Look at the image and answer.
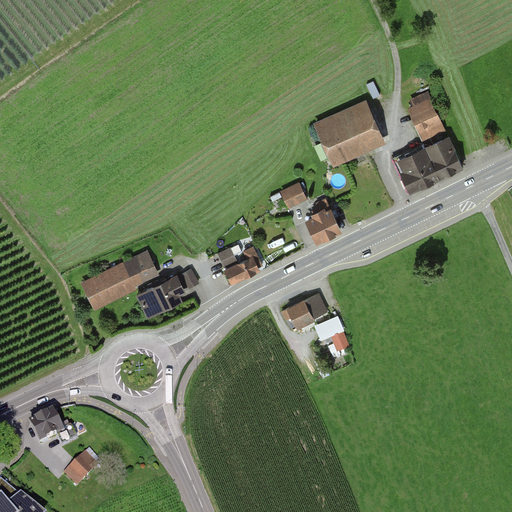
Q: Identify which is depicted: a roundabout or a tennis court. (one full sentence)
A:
Looking from above, you can make out a roundabout.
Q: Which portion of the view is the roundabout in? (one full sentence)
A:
The roundabout appears toward the bottom left of the photo.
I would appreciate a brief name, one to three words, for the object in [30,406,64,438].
house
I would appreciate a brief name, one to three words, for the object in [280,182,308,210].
shed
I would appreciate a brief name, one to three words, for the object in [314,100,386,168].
barn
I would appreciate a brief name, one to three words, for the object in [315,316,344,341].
building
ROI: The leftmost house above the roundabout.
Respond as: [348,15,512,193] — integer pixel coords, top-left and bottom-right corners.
[82,250,160,308]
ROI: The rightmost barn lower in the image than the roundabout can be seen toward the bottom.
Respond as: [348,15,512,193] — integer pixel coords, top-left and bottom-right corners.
[64,447,98,484]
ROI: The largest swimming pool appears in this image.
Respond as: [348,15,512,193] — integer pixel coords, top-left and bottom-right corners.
[330,174,346,189]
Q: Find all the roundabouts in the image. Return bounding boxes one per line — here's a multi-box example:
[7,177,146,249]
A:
[58,314,220,445]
